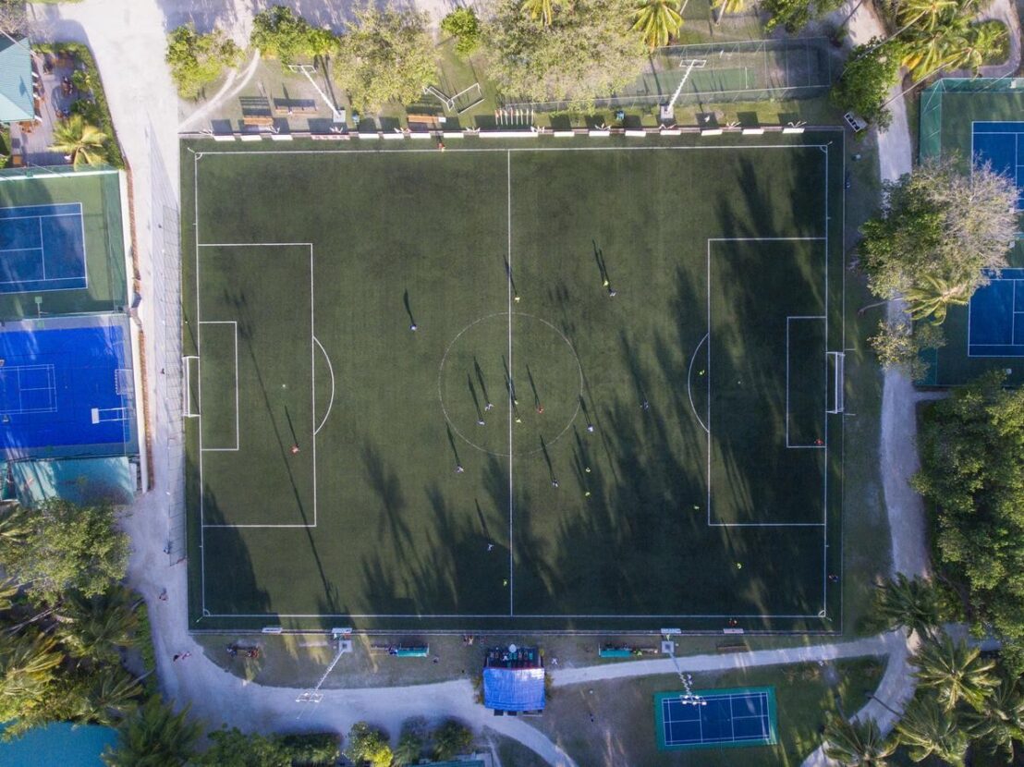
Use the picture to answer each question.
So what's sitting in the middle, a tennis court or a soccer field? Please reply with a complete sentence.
Visible in the middle is a soccer field.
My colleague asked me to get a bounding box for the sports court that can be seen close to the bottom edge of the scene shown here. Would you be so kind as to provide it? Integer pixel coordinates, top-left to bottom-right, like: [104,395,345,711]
[654,686,777,750]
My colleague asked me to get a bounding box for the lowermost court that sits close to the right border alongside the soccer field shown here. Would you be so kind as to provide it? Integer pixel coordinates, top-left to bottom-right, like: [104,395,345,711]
[920,237,1024,386]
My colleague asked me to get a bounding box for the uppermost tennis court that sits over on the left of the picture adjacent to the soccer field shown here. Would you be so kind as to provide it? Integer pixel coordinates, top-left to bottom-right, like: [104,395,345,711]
[0,170,128,321]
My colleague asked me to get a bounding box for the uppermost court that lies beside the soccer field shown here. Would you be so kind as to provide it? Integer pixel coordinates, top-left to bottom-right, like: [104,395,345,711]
[922,91,1024,236]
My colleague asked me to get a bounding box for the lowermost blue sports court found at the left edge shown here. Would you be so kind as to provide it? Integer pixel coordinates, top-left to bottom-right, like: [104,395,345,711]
[0,318,139,458]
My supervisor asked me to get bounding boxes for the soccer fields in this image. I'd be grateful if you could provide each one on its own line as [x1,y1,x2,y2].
[178,124,845,637]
